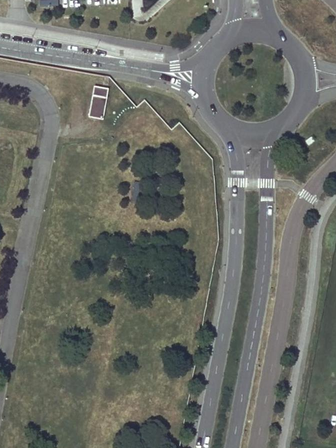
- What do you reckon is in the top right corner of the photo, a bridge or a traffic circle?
traffic circle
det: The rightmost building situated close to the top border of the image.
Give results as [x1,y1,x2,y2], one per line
[132,0,167,21]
